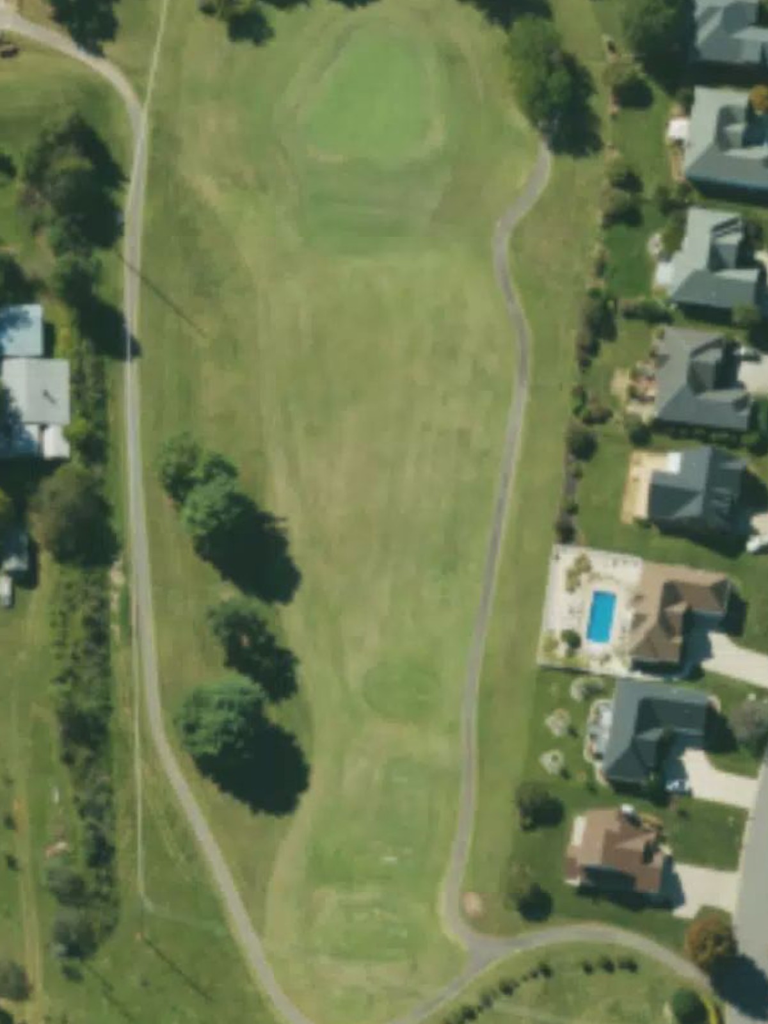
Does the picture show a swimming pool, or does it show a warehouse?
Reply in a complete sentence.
There is a swimming pool in the scene.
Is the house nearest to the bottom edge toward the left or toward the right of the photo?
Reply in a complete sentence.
The house nearest to the bottom edge is on the right side of the image.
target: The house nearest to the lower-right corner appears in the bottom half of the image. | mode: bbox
[578,807,661,902]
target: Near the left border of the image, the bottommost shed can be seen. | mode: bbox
[0,532,30,574]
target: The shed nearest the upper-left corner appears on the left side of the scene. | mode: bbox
[0,308,43,359]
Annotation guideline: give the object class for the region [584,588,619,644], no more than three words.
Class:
swimming pool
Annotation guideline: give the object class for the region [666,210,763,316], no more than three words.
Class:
house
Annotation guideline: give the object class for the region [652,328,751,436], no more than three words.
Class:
house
